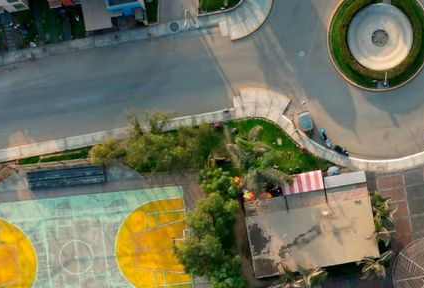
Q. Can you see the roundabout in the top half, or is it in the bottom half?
top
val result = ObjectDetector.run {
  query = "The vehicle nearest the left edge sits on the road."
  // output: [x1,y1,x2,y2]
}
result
[295,109,313,139]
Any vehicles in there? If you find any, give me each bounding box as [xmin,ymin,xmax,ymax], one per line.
[319,128,331,147]
[295,109,313,139]
[335,145,350,155]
